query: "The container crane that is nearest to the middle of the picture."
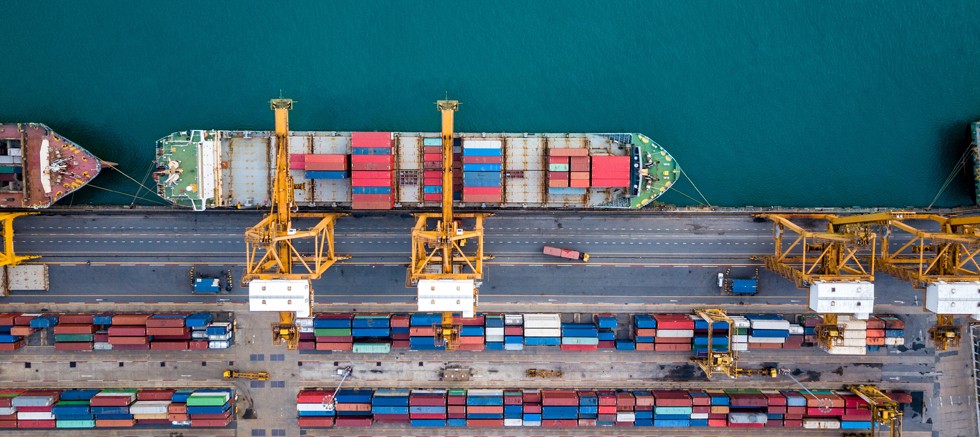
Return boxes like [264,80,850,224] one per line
[407,97,495,352]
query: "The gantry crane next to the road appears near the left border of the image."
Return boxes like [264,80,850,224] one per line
[0,213,37,268]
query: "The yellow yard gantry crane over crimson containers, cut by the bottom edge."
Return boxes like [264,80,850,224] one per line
[845,384,902,437]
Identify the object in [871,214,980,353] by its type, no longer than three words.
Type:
container crane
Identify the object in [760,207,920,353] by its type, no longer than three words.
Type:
container crane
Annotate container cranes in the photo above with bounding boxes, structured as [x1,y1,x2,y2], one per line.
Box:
[871,214,980,353]
[0,213,37,268]
[845,384,902,437]
[695,310,738,381]
[241,89,345,352]
[407,97,495,352]
[760,207,920,353]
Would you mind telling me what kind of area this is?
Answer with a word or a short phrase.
port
